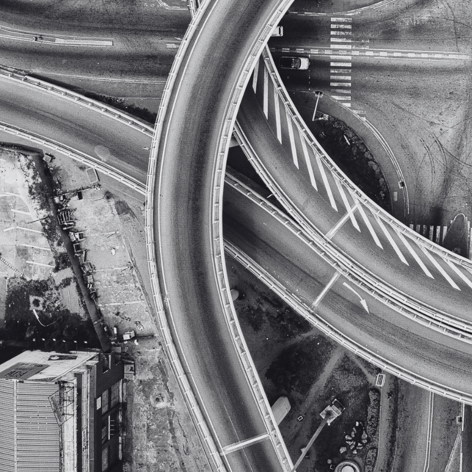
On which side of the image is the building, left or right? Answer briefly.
left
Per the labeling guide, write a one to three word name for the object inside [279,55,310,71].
car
